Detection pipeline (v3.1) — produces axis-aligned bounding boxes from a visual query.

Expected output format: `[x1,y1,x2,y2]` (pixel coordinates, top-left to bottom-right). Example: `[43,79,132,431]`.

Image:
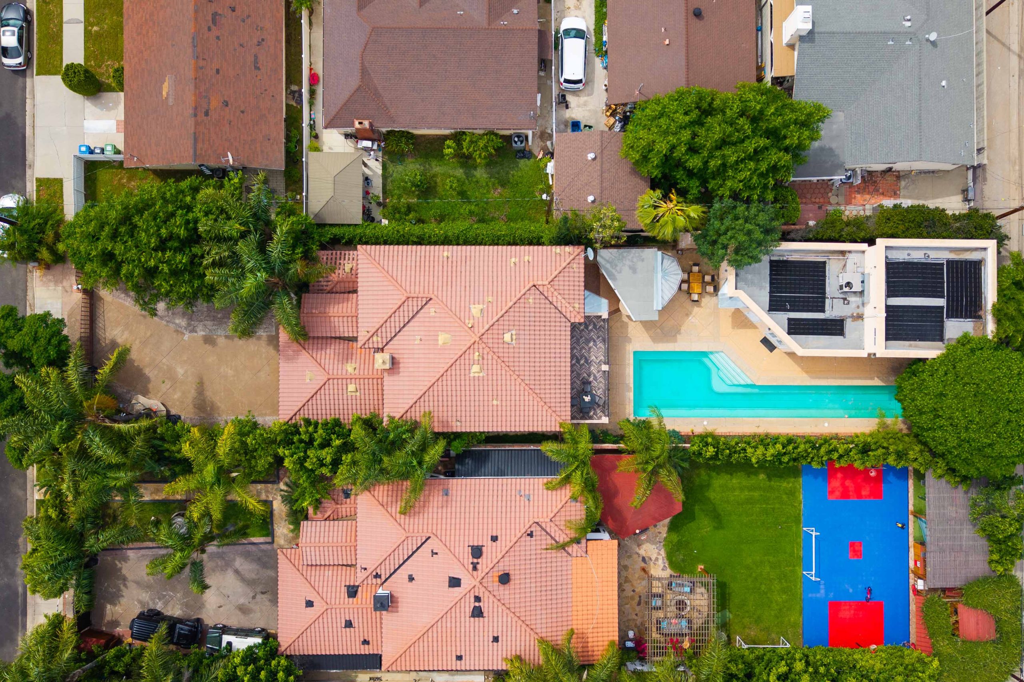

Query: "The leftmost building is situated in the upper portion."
[124,0,296,171]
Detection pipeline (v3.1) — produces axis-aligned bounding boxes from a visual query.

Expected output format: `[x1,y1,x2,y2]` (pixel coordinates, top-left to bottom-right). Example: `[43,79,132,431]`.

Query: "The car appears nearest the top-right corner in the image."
[557,19,591,92]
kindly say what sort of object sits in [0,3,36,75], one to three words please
car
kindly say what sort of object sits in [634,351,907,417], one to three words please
swimming pool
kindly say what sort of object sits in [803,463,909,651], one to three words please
sports court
